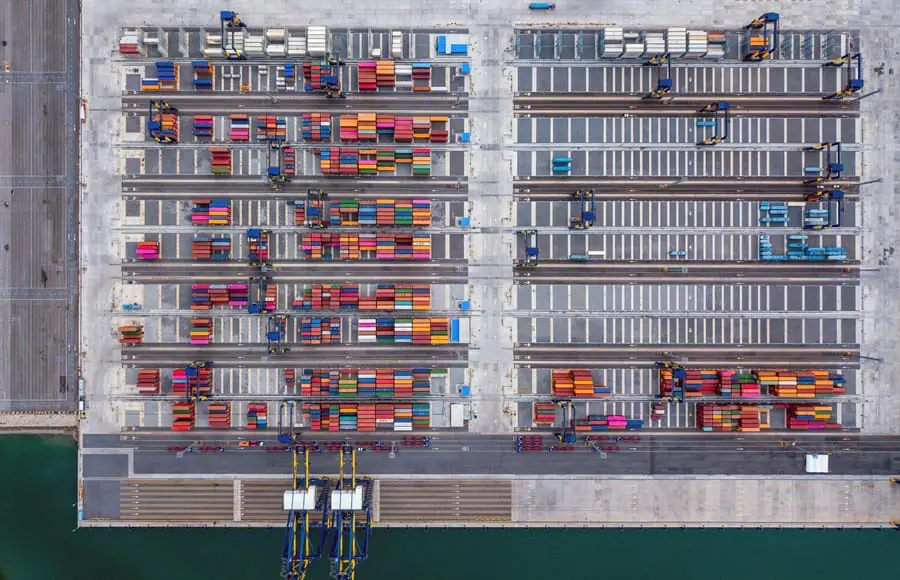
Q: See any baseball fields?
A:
No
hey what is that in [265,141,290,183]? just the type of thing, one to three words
container crane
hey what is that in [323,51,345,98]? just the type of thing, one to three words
container crane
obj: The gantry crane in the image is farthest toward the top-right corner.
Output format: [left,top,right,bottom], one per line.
[824,51,865,98]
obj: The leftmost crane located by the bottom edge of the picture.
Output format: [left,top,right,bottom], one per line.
[274,447,338,580]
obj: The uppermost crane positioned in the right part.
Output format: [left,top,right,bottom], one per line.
[744,12,780,61]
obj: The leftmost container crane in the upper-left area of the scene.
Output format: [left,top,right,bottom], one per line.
[147,101,178,145]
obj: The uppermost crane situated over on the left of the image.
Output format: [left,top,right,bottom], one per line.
[219,11,246,61]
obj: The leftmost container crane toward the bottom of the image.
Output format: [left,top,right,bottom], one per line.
[184,361,212,403]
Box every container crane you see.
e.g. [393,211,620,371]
[643,51,673,98]
[305,189,328,229]
[323,51,345,98]
[265,314,290,354]
[265,141,290,183]
[277,399,301,444]
[744,12,780,61]
[248,277,273,315]
[570,189,596,229]
[805,141,844,183]
[245,228,271,267]
[219,11,246,61]
[698,101,730,145]
[147,101,178,145]
[517,228,540,267]
[553,399,577,443]
[824,51,865,98]
[184,361,212,403]
[805,189,845,229]
[657,361,688,403]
